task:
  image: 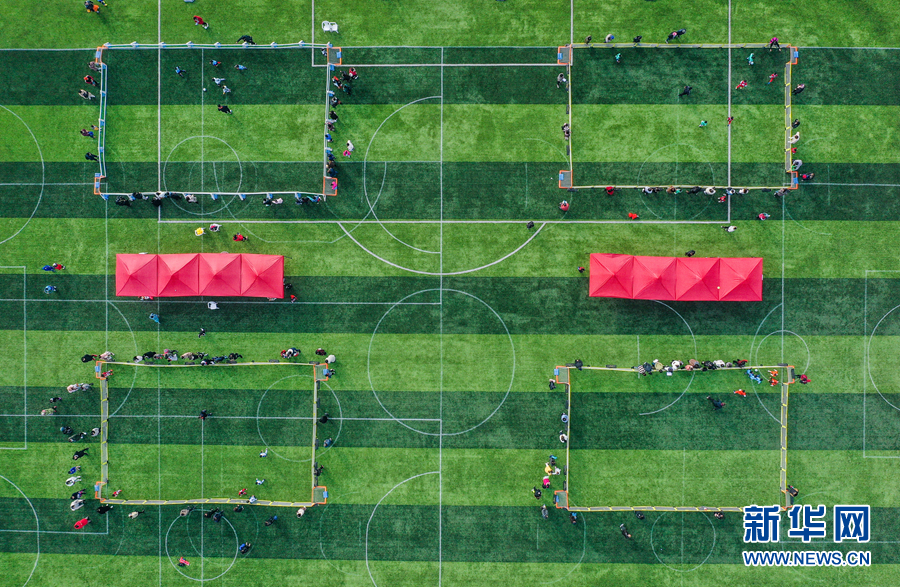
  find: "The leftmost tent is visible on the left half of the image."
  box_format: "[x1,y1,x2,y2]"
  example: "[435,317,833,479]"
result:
[116,254,157,296]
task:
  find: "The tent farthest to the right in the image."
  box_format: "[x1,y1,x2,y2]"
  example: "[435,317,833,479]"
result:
[719,257,763,301]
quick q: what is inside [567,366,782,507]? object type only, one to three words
soccer field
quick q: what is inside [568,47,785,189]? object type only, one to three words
soccer field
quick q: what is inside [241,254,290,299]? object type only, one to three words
tent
